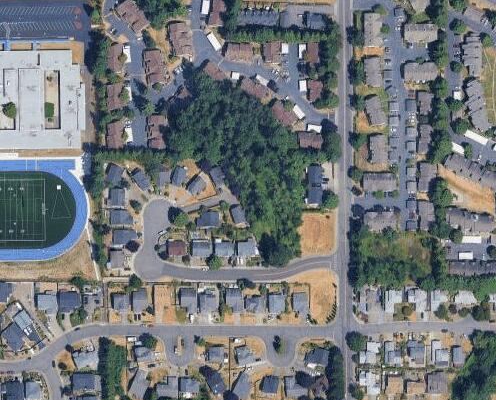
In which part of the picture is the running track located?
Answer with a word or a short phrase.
left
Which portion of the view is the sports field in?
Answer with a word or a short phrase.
left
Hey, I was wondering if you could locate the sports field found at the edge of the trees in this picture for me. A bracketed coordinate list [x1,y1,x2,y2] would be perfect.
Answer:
[0,171,76,249]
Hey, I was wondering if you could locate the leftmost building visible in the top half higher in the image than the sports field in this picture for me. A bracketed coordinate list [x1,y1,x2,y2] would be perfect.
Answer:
[0,40,85,149]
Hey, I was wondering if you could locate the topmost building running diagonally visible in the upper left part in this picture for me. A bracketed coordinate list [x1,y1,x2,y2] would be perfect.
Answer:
[114,0,148,33]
